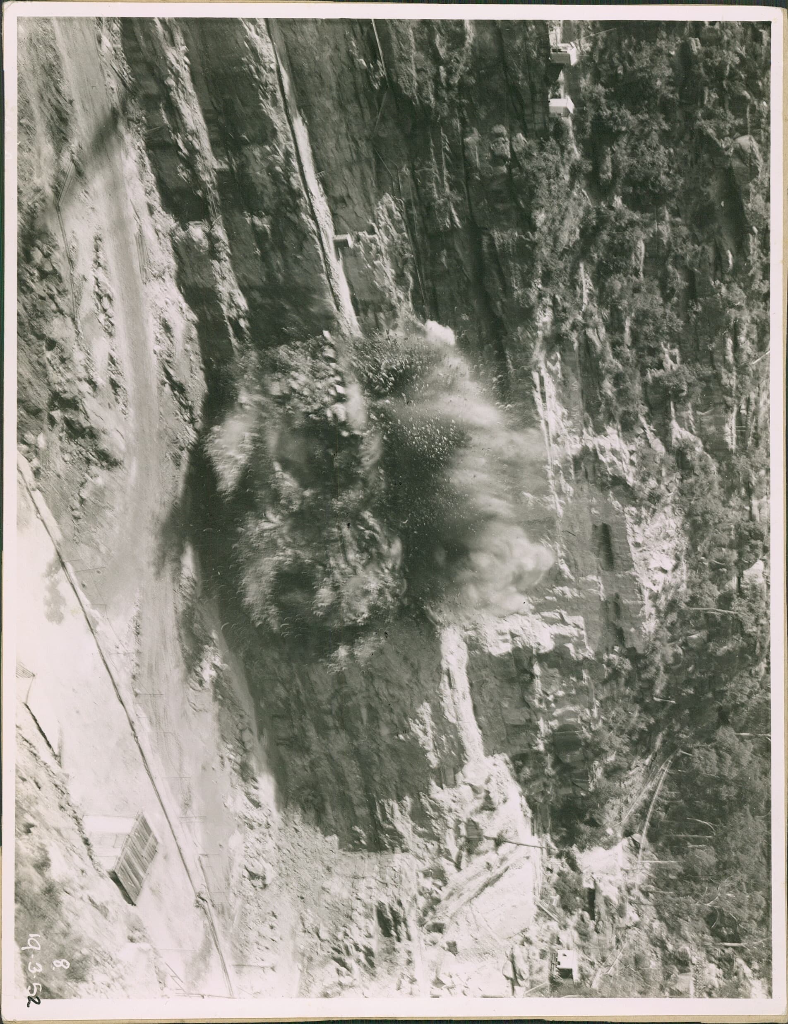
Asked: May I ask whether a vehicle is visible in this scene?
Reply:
No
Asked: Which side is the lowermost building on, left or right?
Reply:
right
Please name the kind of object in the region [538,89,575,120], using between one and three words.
shed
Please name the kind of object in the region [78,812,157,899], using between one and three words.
shed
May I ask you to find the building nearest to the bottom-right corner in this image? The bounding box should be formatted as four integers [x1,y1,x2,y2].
[545,949,584,985]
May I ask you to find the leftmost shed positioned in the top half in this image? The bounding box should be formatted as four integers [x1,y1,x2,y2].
[330,229,353,248]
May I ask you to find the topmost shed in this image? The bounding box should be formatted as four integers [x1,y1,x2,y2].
[540,37,578,67]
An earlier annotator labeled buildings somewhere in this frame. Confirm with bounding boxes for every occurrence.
[545,949,584,985]
[540,37,578,67]
[538,89,575,120]
[330,229,353,248]
[78,812,157,899]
